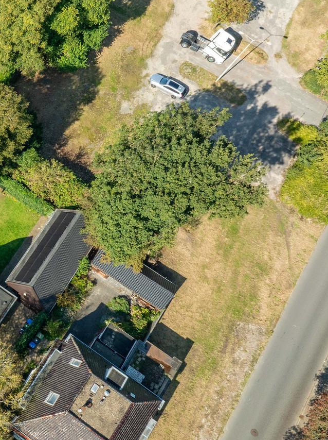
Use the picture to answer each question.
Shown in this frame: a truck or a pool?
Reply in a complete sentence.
There is a truck in the scene.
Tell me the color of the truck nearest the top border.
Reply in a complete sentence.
The truck nearest the top border is white.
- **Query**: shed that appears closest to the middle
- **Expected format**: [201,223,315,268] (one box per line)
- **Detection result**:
[86,242,177,313]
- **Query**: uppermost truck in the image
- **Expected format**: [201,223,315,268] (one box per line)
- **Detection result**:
[181,27,242,66]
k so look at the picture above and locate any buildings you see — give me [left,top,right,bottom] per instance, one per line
[86,242,177,313]
[4,208,95,314]
[10,334,163,440]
